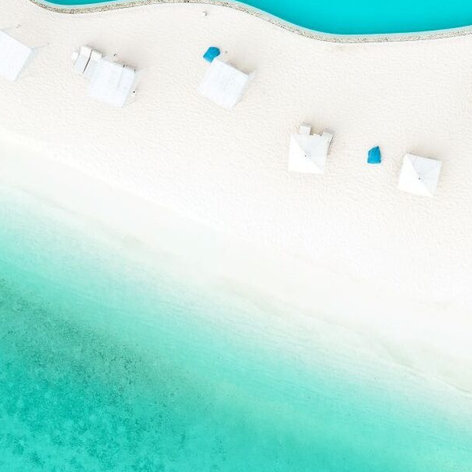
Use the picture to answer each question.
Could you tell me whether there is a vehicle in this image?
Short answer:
No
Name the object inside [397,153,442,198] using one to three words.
umbrella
